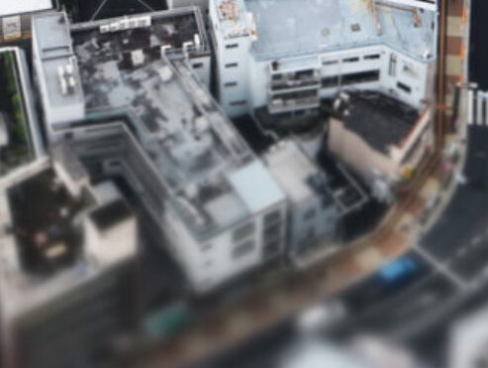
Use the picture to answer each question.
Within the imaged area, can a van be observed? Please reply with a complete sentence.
Yes, the photo shows a van.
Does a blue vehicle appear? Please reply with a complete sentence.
Yes, there's a blue vehicle here.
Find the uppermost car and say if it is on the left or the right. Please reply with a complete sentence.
The uppermost car is on the right side of the image.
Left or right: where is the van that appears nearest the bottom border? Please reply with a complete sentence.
You can find the van that appears nearest the bottom border on the right side of the picture.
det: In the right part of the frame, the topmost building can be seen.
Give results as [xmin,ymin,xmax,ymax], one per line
[208,0,439,113]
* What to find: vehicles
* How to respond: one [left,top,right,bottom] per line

[294,301,346,338]
[374,256,418,289]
